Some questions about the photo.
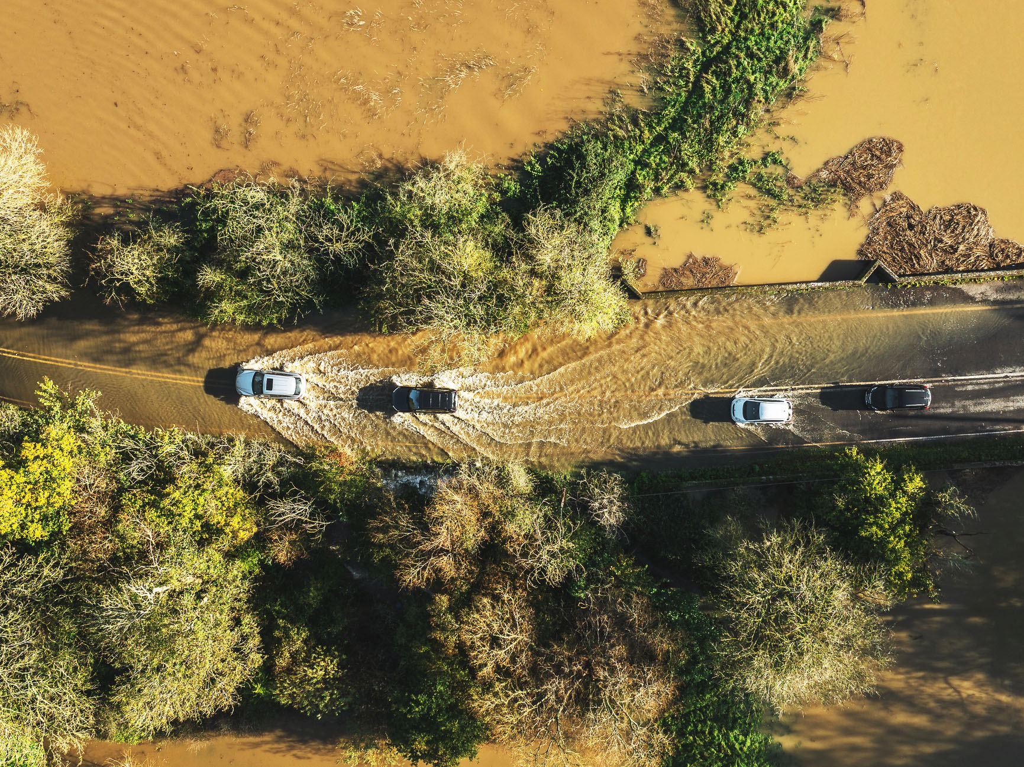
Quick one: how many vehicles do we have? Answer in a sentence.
In total, there are 4 vehicles in the scene.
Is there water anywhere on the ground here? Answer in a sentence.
Yes, water shows up in the scene.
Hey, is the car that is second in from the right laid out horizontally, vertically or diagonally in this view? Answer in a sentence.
Seen from above, the car that is second in from the right lies horizontally.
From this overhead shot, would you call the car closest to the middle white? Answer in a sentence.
No, the color of the car closest to the middle is black.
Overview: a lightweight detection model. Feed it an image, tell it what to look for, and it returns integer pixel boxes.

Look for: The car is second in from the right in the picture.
[728,393,791,426]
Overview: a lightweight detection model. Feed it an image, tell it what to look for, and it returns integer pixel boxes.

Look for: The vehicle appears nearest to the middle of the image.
[393,383,460,416]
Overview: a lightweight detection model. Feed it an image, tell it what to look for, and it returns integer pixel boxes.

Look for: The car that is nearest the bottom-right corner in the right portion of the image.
[861,381,934,414]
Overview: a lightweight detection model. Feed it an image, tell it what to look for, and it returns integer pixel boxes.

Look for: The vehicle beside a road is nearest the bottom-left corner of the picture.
[238,367,311,401]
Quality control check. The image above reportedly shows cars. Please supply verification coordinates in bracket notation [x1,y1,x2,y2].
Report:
[728,393,791,426]
[393,383,460,416]
[238,367,311,401]
[861,381,934,414]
